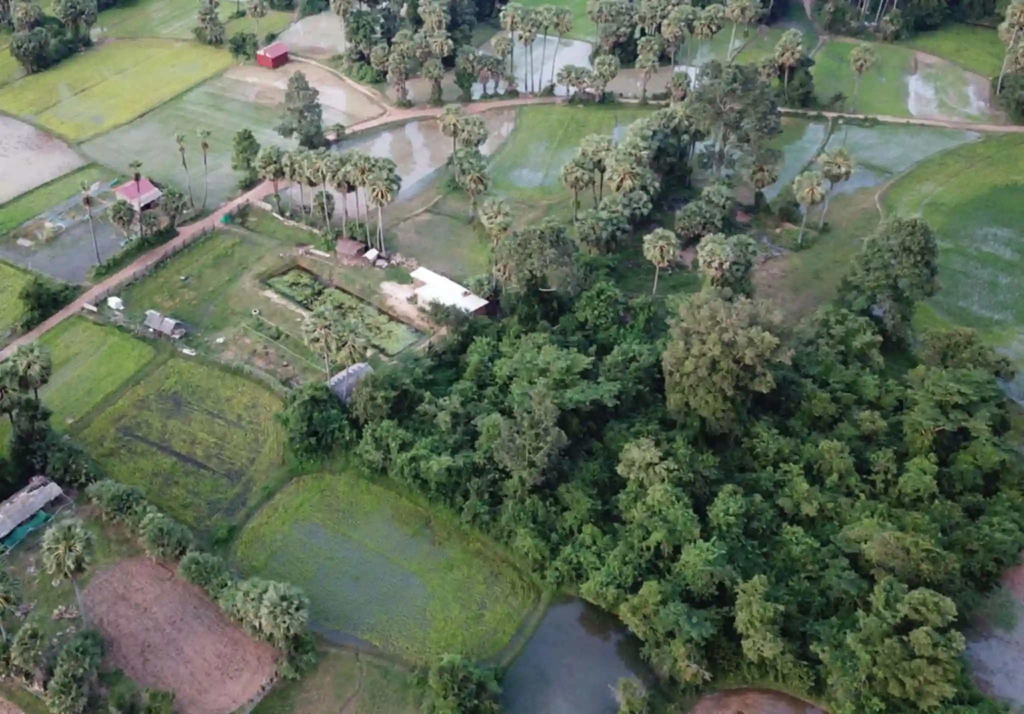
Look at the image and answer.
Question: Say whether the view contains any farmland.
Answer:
Yes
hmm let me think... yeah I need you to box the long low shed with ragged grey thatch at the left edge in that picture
[0,480,72,542]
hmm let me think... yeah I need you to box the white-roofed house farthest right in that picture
[403,264,485,333]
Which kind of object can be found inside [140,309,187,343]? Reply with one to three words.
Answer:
shed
